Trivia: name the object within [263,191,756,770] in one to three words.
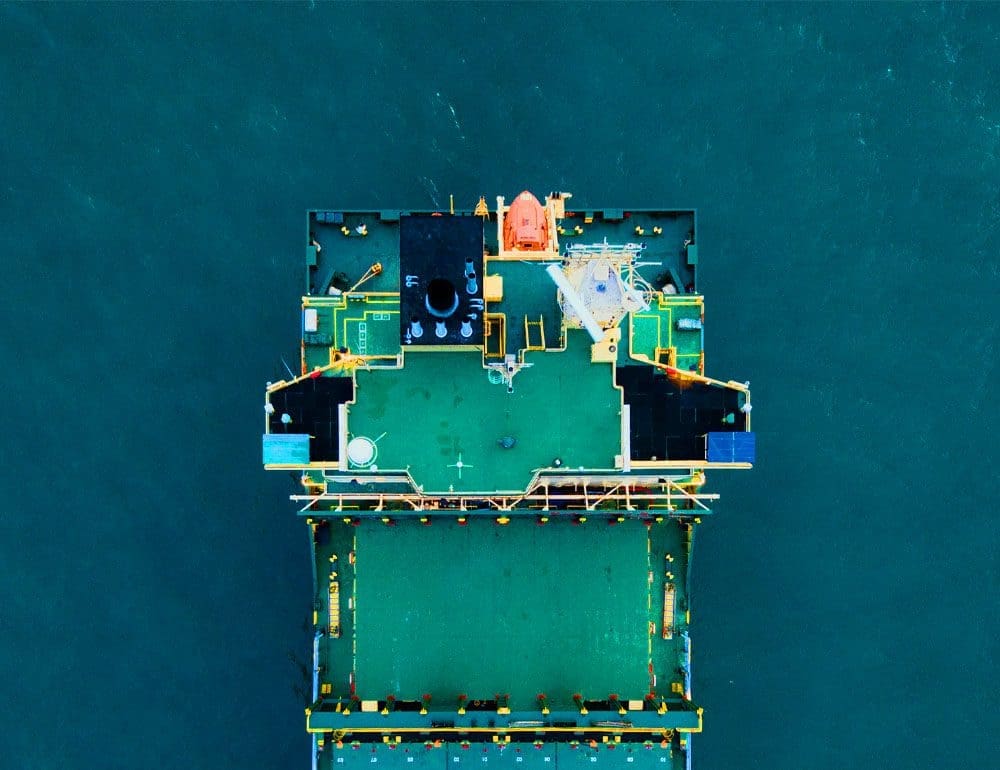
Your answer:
ship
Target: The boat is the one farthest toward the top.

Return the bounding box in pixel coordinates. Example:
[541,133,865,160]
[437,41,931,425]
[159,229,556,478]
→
[505,190,548,254]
